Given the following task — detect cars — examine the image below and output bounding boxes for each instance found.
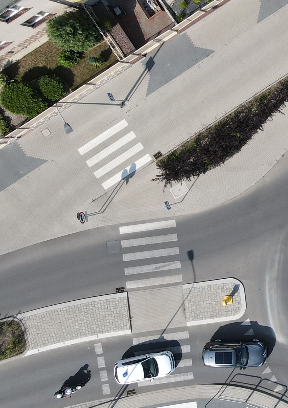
[200,337,270,371]
[114,348,178,381]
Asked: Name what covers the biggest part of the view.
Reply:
paved ground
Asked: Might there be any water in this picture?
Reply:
No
